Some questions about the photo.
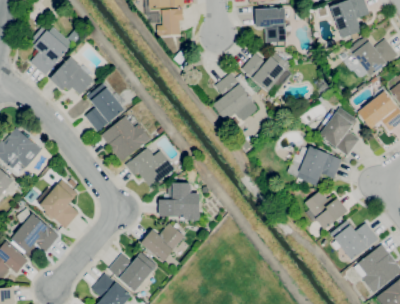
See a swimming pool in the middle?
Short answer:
Yes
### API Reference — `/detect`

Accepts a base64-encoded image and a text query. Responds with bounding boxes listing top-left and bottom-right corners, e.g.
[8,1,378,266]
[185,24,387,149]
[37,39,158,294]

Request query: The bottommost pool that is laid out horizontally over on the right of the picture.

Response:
[280,85,308,98]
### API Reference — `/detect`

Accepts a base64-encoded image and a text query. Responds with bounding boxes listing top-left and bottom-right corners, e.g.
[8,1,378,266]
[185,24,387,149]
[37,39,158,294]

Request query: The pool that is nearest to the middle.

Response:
[158,134,180,160]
